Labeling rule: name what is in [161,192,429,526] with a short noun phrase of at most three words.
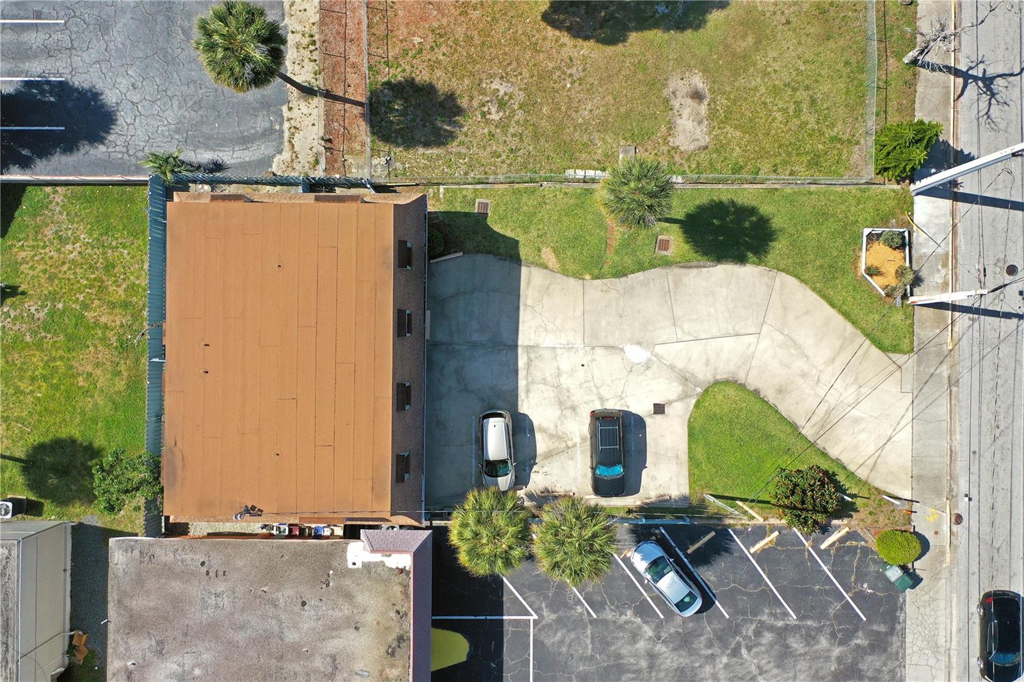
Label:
building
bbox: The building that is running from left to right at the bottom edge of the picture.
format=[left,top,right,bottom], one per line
[108,520,432,682]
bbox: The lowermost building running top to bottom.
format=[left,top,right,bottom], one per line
[0,522,72,682]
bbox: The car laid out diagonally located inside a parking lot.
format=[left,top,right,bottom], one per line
[629,538,701,622]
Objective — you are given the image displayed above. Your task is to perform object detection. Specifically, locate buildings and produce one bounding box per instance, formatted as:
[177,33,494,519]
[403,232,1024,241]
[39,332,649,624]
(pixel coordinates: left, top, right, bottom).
[0,522,72,682]
[161,192,429,526]
[108,520,432,682]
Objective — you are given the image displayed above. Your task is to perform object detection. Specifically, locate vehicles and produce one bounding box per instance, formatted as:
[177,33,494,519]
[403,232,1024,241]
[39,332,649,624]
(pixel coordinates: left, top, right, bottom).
[629,538,701,622]
[586,406,630,496]
[977,592,1024,680]
[477,410,517,489]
